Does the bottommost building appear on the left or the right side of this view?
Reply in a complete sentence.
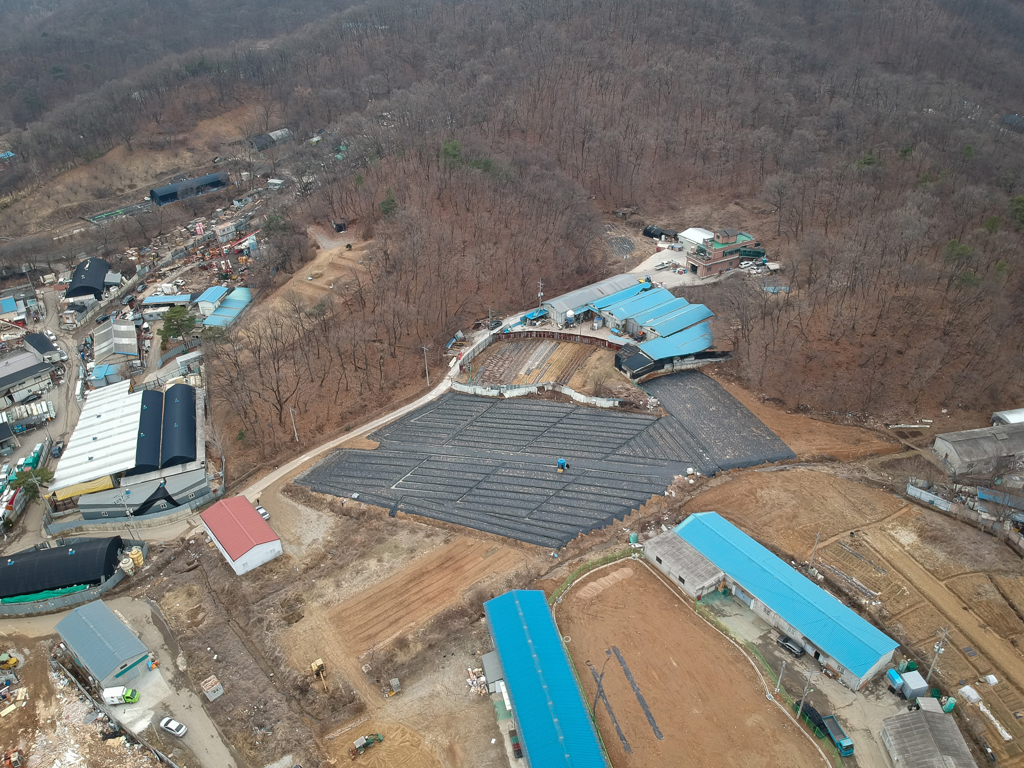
The bottommost building appears in the right half of the scene.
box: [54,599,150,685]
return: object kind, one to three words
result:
building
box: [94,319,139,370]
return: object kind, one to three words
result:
shed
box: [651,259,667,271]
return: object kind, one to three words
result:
vehicle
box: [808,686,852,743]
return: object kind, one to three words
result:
truck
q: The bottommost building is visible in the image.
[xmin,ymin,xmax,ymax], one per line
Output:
[879,708,983,768]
